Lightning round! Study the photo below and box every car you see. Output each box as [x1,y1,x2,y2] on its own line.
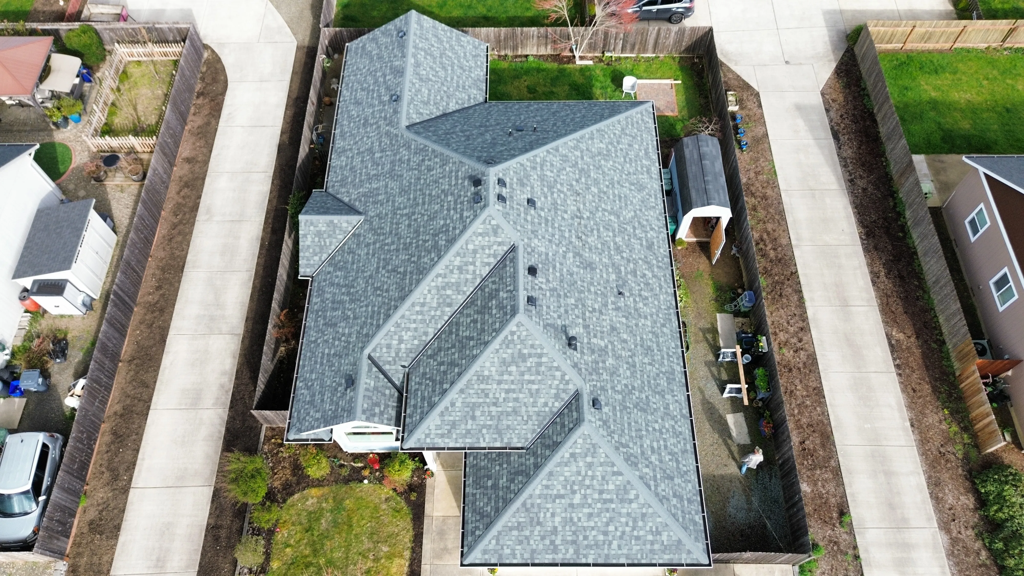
[0,425,69,545]
[605,0,694,23]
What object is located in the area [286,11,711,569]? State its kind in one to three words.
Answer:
house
